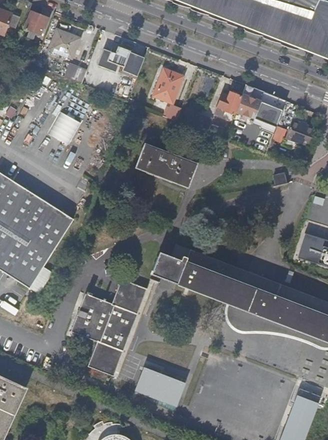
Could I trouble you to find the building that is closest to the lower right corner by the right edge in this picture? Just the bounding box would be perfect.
[277,379,328,440]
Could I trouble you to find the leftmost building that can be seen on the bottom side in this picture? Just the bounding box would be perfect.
[0,374,29,440]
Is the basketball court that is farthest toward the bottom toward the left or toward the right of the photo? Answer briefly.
right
